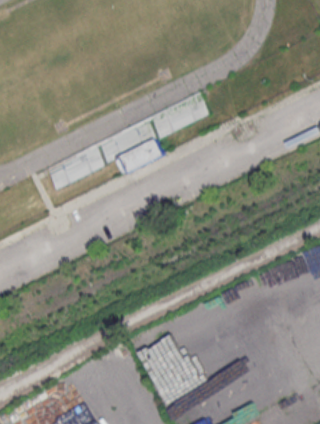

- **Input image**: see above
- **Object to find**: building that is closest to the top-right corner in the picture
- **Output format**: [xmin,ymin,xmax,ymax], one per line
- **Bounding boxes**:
[152,91,212,139]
